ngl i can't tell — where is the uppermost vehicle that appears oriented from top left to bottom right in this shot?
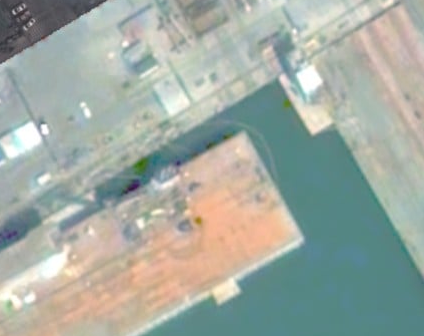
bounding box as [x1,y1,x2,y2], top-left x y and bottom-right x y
[79,101,93,119]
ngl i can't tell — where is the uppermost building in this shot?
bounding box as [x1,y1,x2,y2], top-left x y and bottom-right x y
[118,7,161,46]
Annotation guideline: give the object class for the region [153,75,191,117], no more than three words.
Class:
shed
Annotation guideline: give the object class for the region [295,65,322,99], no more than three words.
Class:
building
